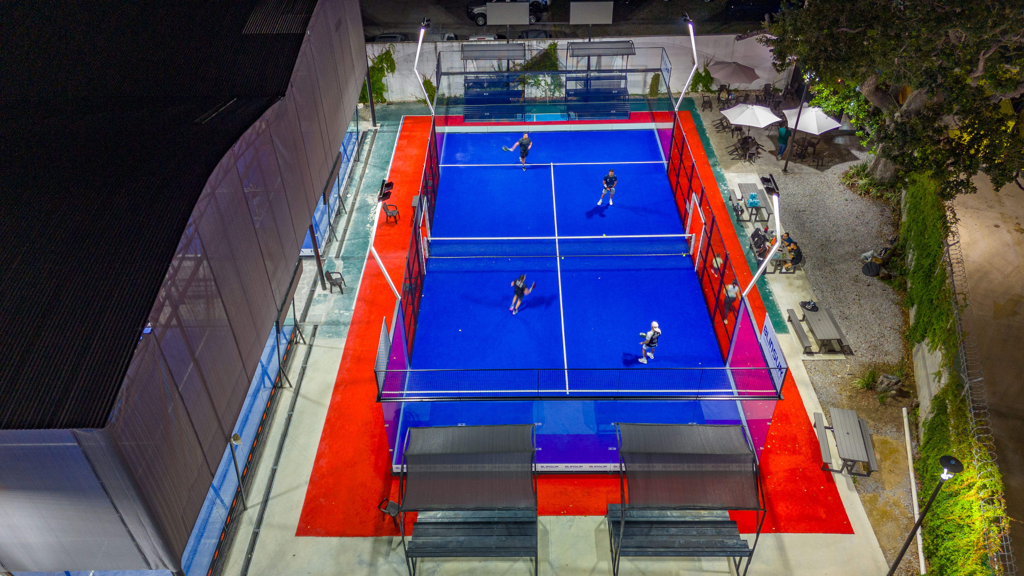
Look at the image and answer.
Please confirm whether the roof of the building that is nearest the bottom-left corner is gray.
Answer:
No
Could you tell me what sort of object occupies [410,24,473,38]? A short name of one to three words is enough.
vehicle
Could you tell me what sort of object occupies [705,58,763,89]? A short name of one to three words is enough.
umbrella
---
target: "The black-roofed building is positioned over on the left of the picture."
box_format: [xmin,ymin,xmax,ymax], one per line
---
[0,0,376,576]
